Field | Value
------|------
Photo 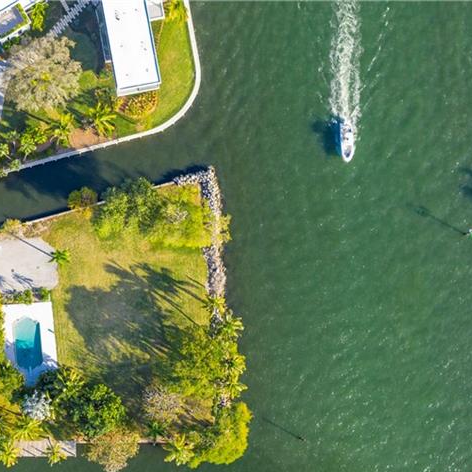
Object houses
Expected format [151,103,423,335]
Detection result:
[99,0,164,102]
[0,0,54,46]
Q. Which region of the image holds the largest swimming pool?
bottom left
